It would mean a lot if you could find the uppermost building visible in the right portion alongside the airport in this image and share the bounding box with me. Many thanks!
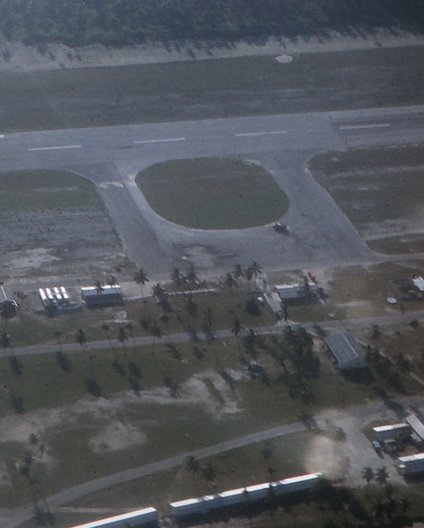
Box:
[271,282,322,306]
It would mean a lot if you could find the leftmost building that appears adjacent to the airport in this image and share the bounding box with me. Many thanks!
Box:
[78,285,125,305]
